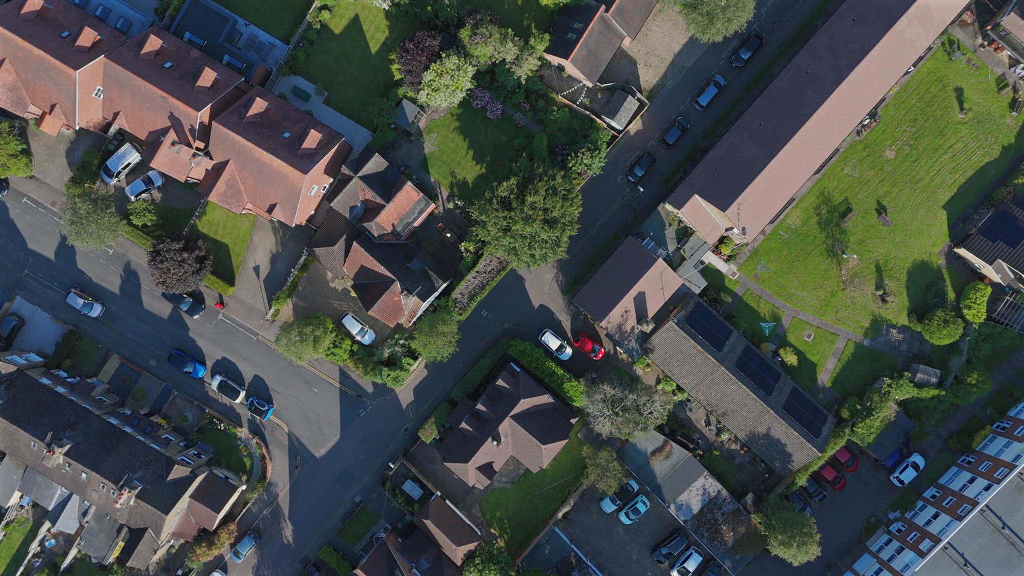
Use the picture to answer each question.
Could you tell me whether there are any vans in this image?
Yes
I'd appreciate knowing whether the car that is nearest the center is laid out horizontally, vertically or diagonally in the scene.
diagonally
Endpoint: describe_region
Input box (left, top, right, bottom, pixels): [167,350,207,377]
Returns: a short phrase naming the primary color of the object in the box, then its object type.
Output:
blue car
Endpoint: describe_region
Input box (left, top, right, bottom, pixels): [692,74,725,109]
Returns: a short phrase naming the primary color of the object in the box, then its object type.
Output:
blue car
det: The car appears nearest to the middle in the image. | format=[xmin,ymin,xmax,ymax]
[538,327,572,361]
